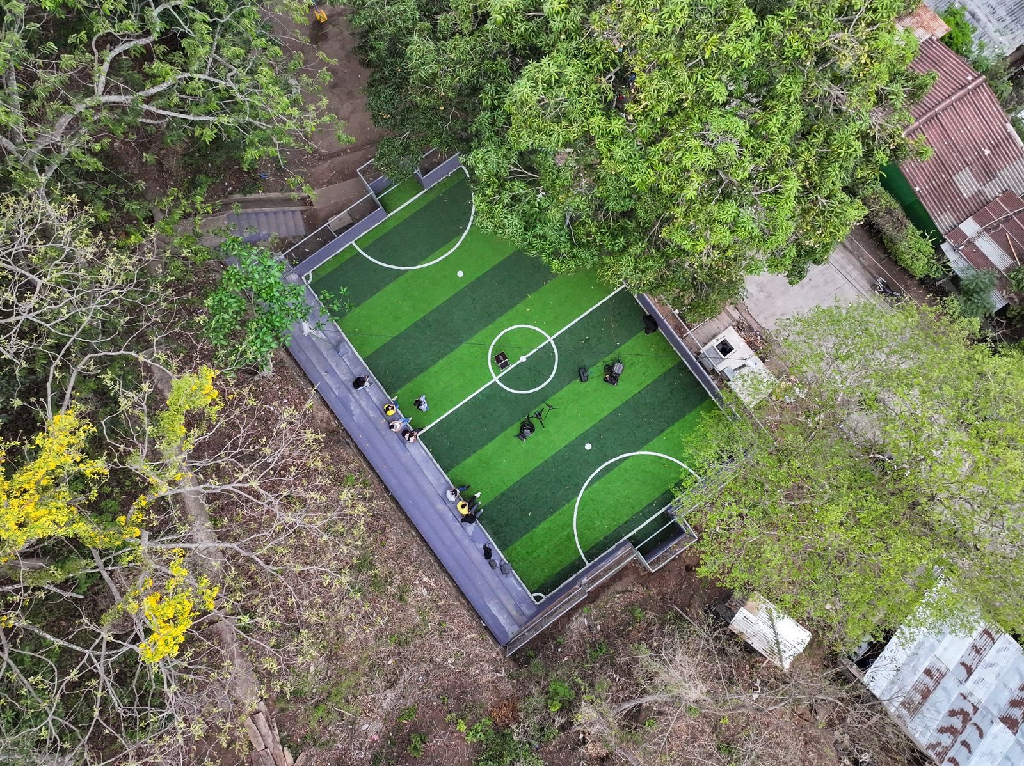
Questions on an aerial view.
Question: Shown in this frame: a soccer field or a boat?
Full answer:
The one in the frame is a soccer field.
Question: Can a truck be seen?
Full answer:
No, there isn't any truck down there.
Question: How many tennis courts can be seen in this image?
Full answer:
The photo contains no tennis courts.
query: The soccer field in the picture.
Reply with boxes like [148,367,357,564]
[302,133,749,606]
